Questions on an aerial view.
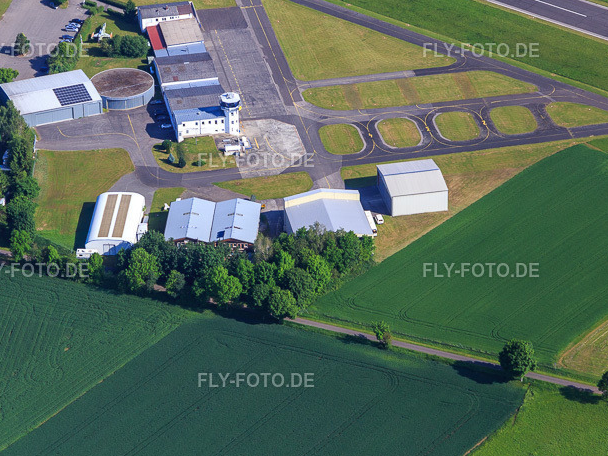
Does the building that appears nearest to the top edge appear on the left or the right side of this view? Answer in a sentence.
The building that appears nearest to the top edge appears in the left half of the scene.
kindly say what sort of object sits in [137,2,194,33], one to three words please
building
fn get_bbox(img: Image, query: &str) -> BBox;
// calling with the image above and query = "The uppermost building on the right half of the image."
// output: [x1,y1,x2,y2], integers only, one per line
[377,158,450,216]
